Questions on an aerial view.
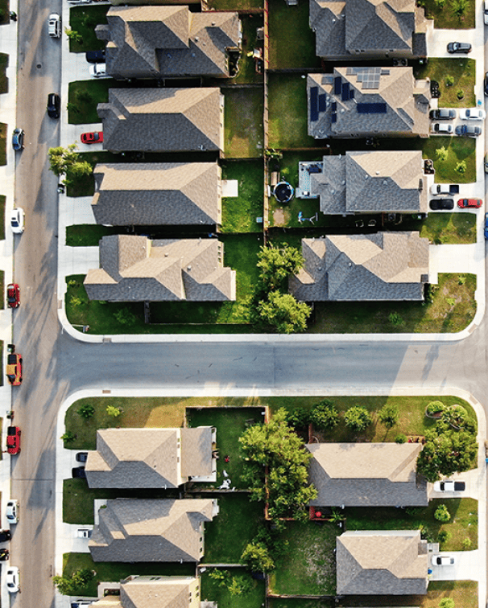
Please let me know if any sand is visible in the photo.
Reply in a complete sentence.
No, the picture contains no sand.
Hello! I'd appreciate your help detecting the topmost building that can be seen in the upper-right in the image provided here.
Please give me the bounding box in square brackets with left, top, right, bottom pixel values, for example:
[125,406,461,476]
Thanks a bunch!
[309,0,427,60]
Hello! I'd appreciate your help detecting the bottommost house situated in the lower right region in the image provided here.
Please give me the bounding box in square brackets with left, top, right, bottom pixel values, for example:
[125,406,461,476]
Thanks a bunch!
[336,531,428,595]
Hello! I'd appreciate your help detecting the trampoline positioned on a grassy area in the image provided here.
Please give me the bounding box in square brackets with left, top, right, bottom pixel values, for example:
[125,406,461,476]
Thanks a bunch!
[272,179,294,201]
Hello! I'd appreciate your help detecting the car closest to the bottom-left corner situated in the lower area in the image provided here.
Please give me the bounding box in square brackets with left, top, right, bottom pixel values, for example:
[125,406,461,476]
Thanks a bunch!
[6,567,21,593]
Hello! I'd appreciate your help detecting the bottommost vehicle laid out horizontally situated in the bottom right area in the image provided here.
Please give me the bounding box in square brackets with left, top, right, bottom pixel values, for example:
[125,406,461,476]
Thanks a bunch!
[430,555,456,567]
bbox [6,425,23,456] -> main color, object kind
red vehicle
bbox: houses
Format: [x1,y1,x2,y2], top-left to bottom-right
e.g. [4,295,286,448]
[336,531,428,595]
[91,162,221,225]
[84,234,234,301]
[307,66,430,140]
[83,428,215,488]
[288,232,429,302]
[309,0,427,60]
[88,578,200,608]
[305,443,428,507]
[98,88,223,153]
[96,5,241,82]
[310,150,428,216]
[89,498,217,563]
